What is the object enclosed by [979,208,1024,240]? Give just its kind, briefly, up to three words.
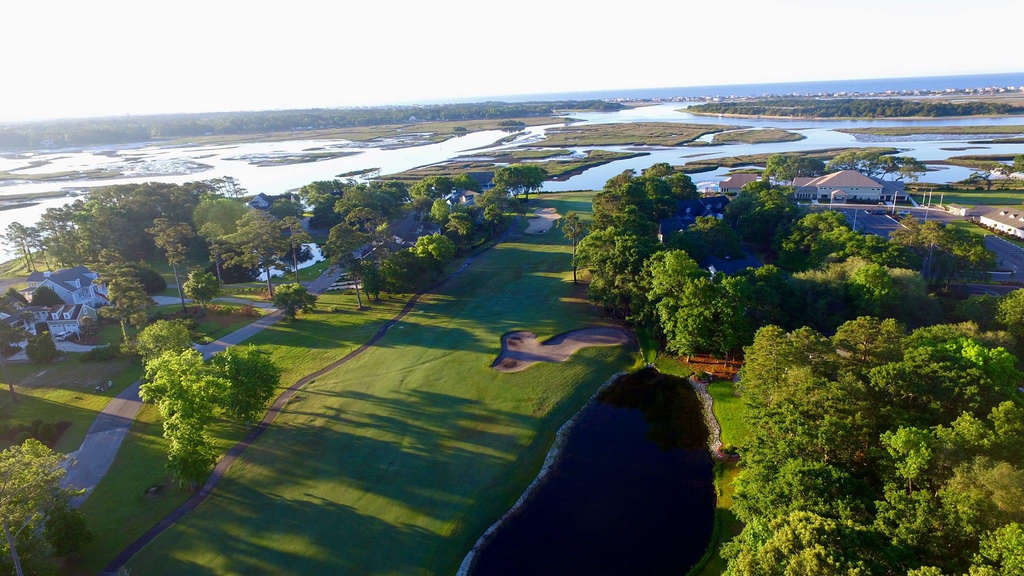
building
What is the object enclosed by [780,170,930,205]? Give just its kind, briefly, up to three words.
building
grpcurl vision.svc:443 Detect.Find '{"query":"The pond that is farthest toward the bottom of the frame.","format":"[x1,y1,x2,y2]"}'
[466,368,721,576]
